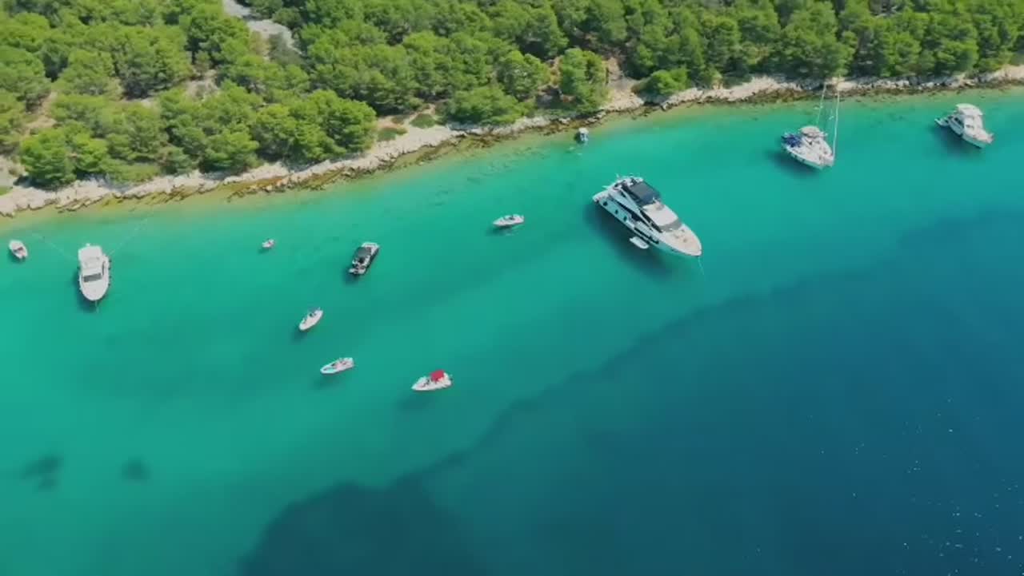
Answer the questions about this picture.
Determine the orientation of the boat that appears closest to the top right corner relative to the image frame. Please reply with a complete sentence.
The boat that appears closest to the top right corner is laid out at an angle.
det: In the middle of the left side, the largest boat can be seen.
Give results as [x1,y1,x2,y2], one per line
[78,239,113,302]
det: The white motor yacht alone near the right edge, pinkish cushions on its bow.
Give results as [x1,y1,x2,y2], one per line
[930,107,989,149]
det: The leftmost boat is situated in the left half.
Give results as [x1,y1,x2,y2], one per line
[10,242,32,264]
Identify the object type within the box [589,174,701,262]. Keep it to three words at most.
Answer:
boat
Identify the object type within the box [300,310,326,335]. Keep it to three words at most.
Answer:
boat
